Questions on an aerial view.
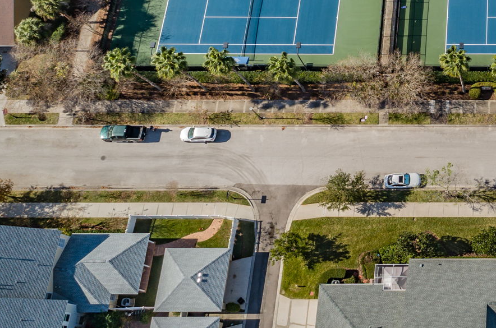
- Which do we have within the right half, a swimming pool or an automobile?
automobile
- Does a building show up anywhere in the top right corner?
No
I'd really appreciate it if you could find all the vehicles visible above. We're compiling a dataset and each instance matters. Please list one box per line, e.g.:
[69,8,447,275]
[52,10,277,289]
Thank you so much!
[98,125,147,143]
[180,126,217,144]
[384,172,423,190]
